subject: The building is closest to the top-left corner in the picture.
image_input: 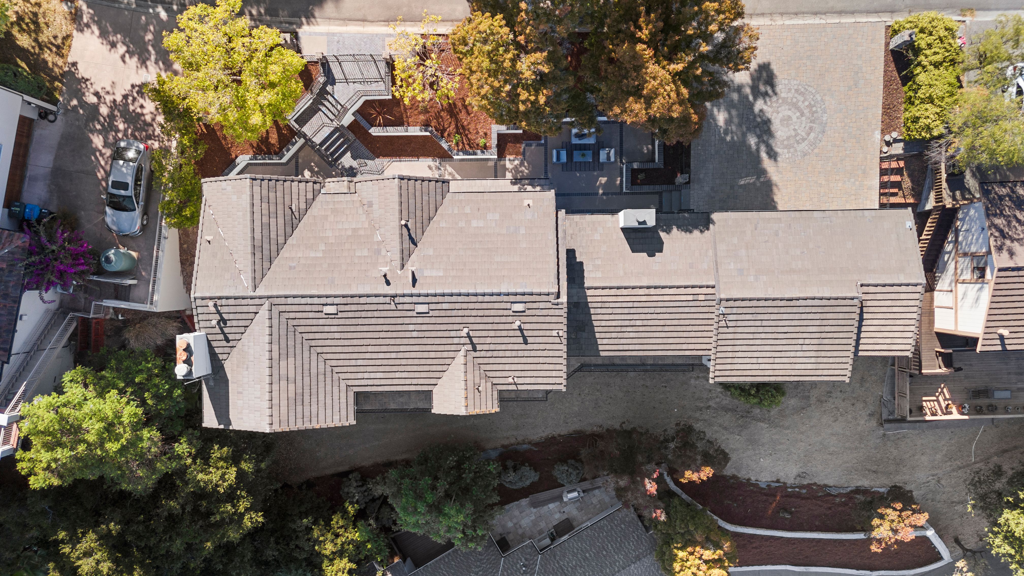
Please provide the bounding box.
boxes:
[0,86,61,230]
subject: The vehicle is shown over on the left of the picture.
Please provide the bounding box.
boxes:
[102,139,156,239]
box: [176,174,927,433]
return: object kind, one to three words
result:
house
